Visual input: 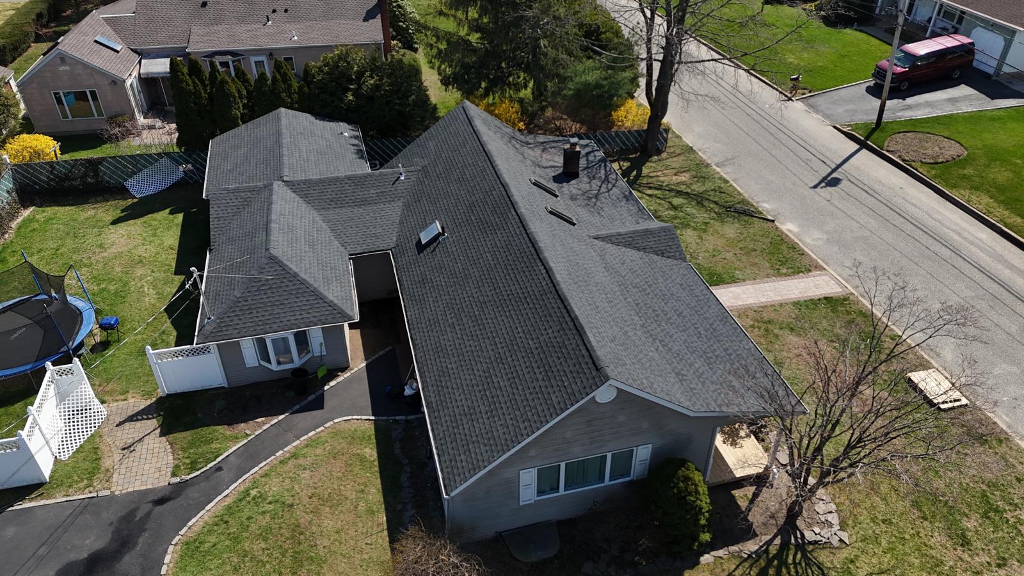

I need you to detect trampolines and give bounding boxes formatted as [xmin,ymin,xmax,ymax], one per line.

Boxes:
[0,240,100,381]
